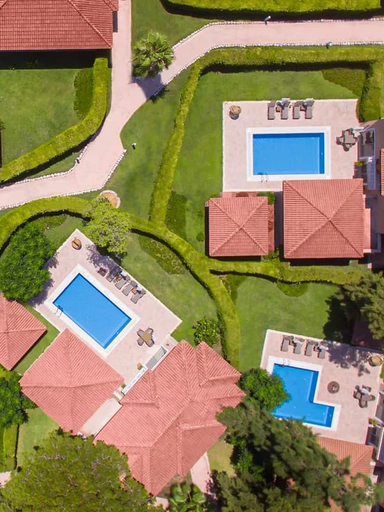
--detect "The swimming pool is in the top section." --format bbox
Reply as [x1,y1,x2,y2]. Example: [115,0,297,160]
[247,127,330,181]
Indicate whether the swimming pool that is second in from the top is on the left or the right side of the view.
left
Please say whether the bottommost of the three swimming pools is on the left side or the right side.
right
